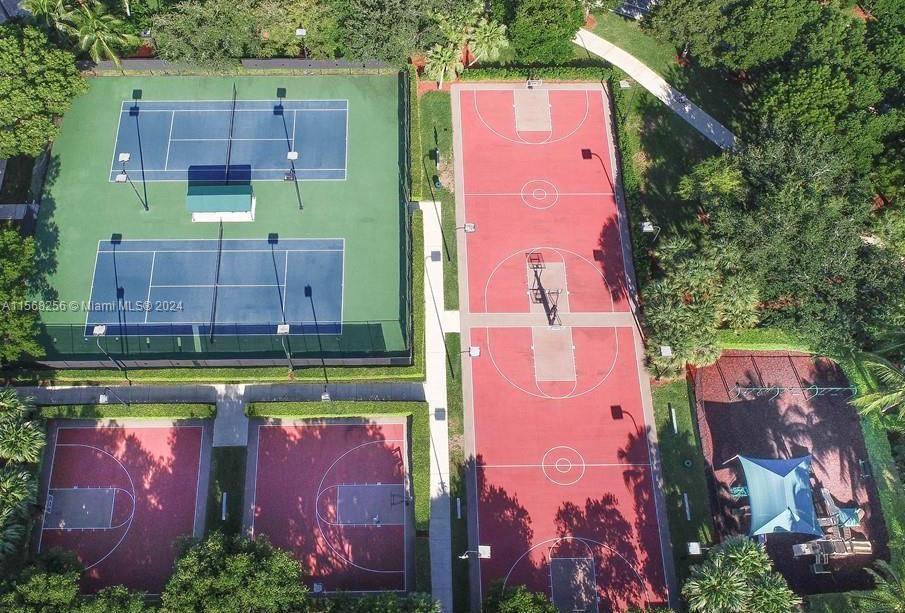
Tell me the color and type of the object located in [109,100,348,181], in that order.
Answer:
blue tennis court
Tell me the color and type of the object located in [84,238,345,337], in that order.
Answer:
blue tennis court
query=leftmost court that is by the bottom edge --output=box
[25,418,212,602]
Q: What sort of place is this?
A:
sports ground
